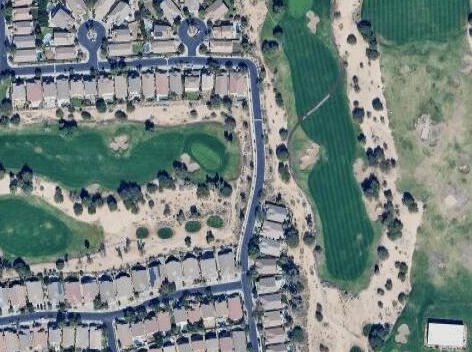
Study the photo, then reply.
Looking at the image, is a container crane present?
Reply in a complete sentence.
No, the frame has no container crane in it.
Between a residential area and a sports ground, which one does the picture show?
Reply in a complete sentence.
It's a residential area.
